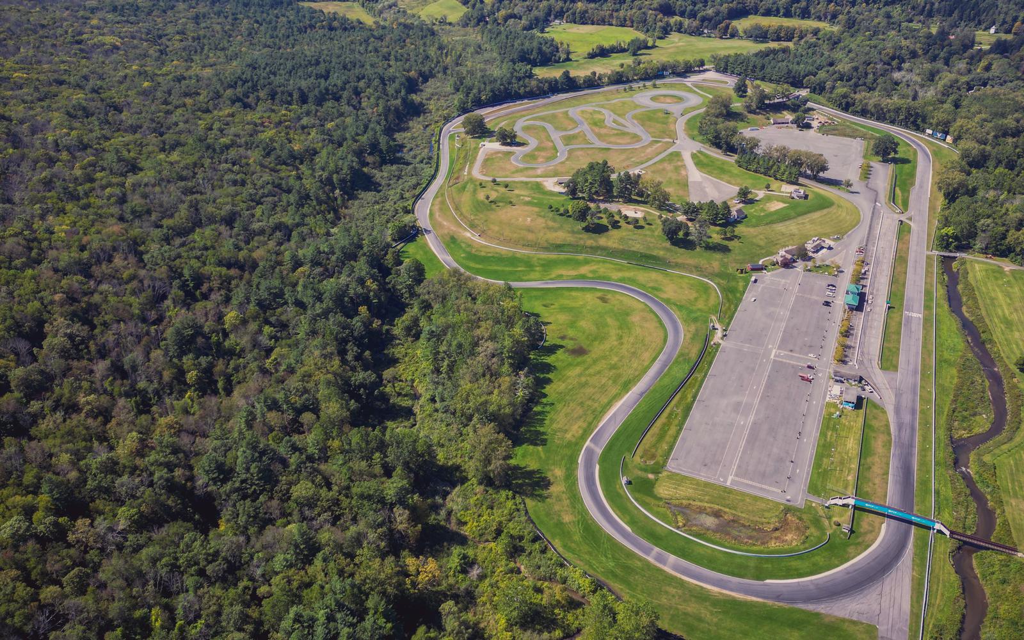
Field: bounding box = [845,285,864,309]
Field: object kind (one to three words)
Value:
building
